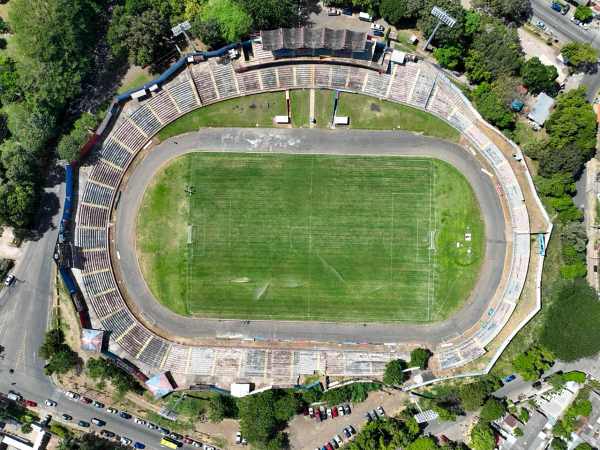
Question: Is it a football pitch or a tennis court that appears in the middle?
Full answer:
The one visible in the middle is a football pitch.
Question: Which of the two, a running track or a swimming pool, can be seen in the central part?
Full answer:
The one visible in the central part is a running track.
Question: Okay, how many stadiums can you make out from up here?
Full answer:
Only 1 stadium is visible.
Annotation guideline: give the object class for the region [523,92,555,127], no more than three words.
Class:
house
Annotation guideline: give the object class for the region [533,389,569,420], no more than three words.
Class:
house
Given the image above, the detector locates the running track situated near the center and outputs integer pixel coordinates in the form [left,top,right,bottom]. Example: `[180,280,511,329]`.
[116,127,507,343]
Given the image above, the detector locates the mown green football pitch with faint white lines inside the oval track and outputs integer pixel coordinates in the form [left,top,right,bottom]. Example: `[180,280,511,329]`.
[137,152,484,323]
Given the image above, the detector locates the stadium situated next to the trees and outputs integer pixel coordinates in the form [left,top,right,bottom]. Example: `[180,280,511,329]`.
[53,25,531,390]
